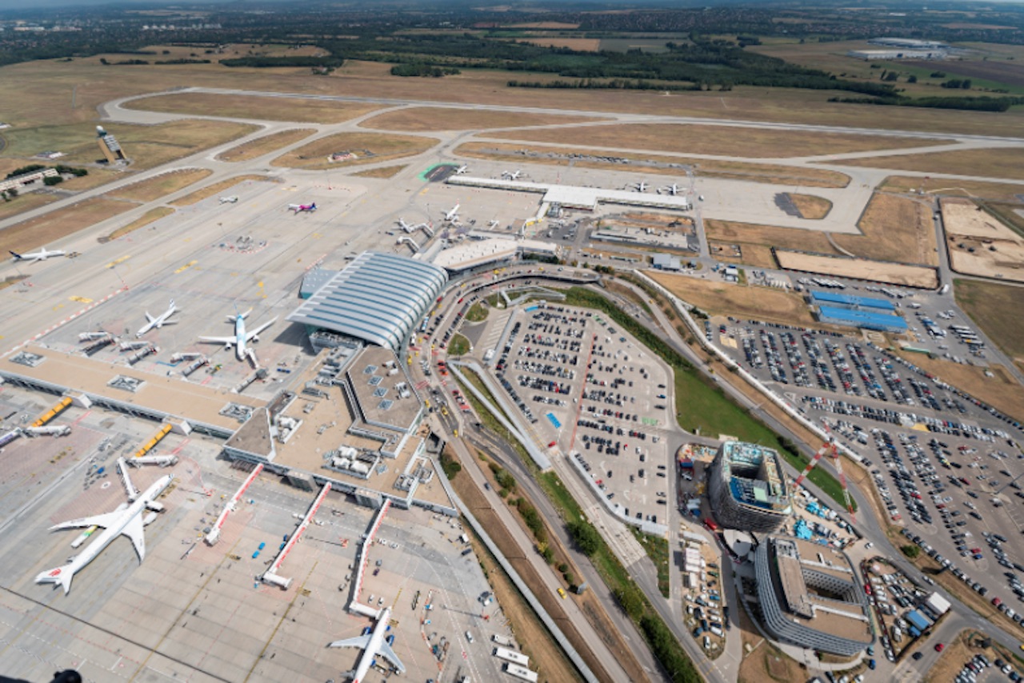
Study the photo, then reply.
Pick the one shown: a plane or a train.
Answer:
plane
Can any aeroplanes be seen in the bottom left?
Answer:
Yes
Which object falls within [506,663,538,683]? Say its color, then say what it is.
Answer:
white vehicle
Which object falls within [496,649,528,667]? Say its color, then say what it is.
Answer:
white vehicle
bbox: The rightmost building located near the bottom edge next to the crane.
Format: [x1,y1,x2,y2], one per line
[750,537,877,658]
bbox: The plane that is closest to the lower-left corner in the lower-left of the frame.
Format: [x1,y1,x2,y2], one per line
[39,475,173,589]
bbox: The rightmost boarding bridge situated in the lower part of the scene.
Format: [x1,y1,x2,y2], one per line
[348,500,393,621]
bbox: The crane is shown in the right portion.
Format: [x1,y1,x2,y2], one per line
[793,418,857,524]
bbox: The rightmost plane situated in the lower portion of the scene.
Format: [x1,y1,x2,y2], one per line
[326,608,402,683]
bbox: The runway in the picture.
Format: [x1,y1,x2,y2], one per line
[182,87,1024,144]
